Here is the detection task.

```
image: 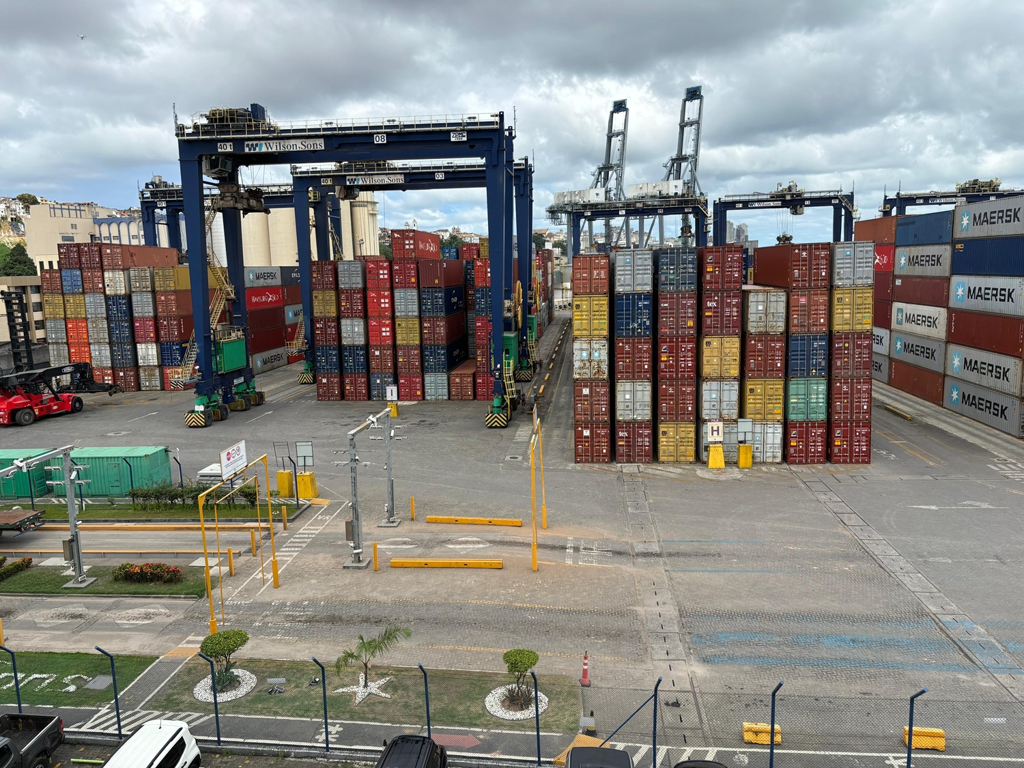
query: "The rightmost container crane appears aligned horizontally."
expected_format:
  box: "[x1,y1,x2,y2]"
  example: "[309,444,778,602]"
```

[870,173,1024,244]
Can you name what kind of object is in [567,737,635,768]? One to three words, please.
car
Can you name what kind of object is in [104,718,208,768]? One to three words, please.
car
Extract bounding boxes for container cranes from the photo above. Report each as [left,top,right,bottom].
[870,173,1024,244]
[536,98,623,268]
[605,86,702,250]
[710,181,873,247]
[166,102,551,427]
[574,185,727,256]
[277,140,561,383]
